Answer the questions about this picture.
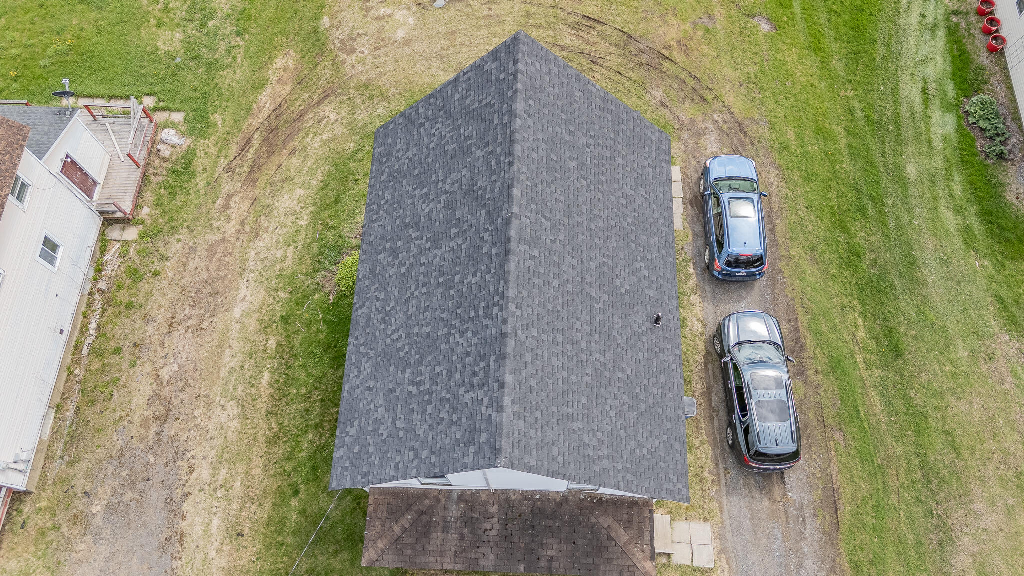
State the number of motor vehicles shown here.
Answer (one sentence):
In total, there are 2 motor vehicles in the scene.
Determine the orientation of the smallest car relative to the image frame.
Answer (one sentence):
In this picture, the smallest car lies from top to bottom.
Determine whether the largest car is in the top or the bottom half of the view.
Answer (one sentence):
Seen from above, the largest car lies in the bottom half of the view.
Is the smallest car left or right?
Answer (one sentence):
You can find the smallest car on the right side of the picture.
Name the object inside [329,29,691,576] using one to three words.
house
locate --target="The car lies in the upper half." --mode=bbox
[700,155,770,285]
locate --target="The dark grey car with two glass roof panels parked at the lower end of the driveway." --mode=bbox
[714,310,805,475]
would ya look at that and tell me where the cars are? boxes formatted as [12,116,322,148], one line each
[714,310,805,475]
[700,155,770,285]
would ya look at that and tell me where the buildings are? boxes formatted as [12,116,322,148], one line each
[329,29,691,576]
[990,0,1024,136]
[0,109,120,490]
